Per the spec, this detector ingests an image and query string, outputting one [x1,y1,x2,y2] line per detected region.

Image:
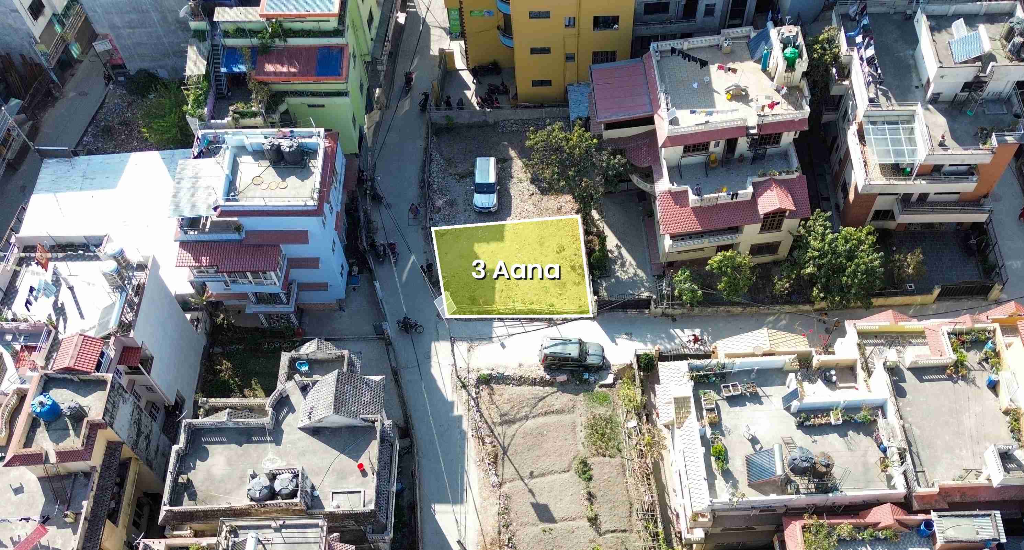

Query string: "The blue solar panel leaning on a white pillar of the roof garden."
[776,380,805,416]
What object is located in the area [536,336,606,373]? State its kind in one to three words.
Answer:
car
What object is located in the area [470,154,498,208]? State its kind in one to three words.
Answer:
car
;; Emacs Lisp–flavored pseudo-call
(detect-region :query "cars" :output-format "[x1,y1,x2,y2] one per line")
[536,336,606,373]
[470,154,498,208]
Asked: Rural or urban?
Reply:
urban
